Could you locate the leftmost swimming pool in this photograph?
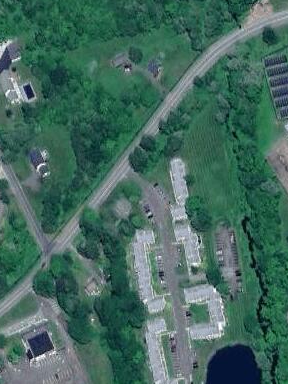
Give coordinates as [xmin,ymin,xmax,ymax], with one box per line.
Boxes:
[22,81,35,101]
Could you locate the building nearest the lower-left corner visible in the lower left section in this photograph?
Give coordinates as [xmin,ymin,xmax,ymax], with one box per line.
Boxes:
[22,326,59,365]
